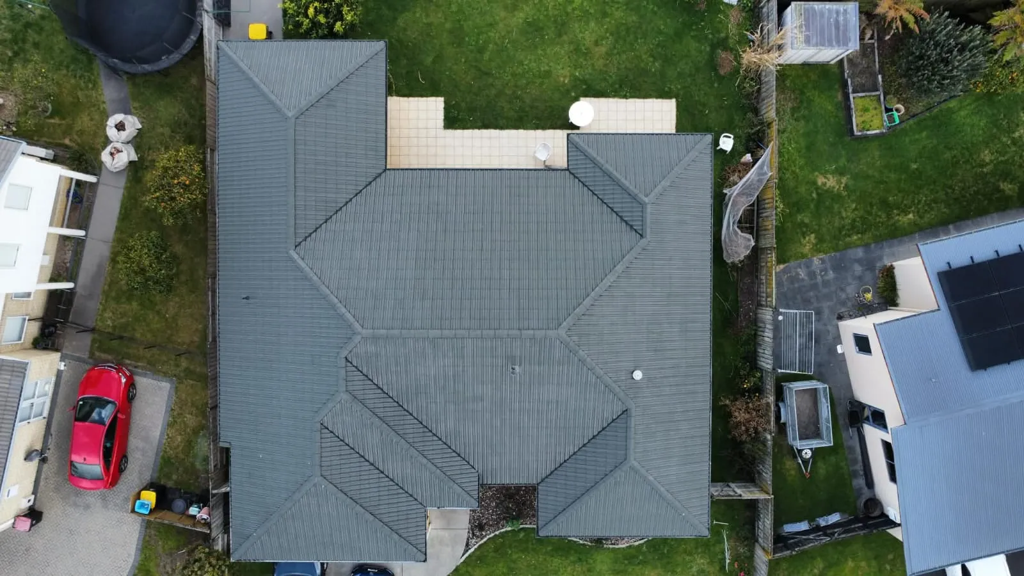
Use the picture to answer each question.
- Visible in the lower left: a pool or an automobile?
automobile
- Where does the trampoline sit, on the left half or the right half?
left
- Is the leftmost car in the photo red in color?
Yes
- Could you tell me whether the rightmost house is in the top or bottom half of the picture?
bottom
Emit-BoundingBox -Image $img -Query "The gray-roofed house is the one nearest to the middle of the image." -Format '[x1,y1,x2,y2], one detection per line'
[215,38,715,564]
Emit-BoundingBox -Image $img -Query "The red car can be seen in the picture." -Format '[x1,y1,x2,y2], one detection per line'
[65,363,139,494]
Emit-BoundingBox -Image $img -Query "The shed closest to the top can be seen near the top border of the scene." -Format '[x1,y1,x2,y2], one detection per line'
[776,1,860,67]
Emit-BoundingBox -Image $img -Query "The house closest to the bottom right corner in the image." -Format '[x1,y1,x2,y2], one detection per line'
[839,216,1024,576]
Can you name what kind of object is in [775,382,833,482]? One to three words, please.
trailer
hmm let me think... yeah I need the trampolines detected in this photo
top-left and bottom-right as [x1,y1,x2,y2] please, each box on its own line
[43,0,203,78]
